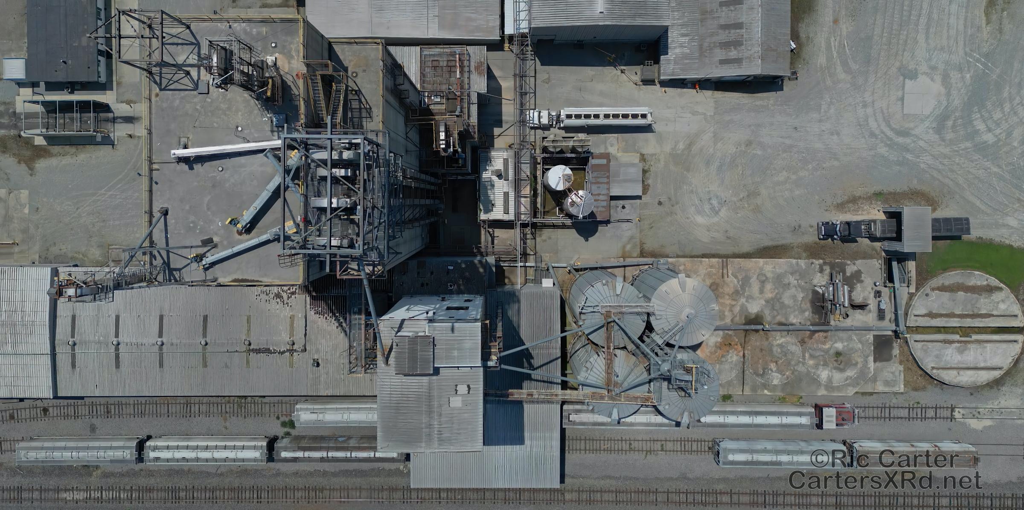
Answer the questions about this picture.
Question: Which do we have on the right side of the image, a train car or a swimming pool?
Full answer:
You can see a train car on the right side of the image.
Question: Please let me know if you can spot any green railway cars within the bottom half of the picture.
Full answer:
No, there's no green railway car to be seen within the bottom half of the picture.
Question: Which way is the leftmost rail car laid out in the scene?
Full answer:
The leftmost rail car has been laid out from left to right relative to the frame.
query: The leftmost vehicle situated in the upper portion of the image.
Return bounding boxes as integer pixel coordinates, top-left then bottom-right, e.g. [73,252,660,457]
[527,108,655,129]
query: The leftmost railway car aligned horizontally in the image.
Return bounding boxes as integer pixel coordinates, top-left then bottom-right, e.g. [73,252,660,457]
[16,438,147,465]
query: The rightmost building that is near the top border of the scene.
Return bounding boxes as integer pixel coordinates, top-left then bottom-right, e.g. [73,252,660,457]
[657,0,791,81]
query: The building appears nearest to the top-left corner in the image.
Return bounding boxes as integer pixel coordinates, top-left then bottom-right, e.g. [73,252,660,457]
[27,0,109,83]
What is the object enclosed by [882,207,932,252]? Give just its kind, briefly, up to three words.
shed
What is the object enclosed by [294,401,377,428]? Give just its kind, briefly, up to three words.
rail car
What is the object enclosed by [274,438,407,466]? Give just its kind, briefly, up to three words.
rail car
